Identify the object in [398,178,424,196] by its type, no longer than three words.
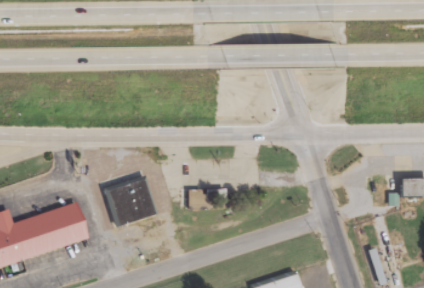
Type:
building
